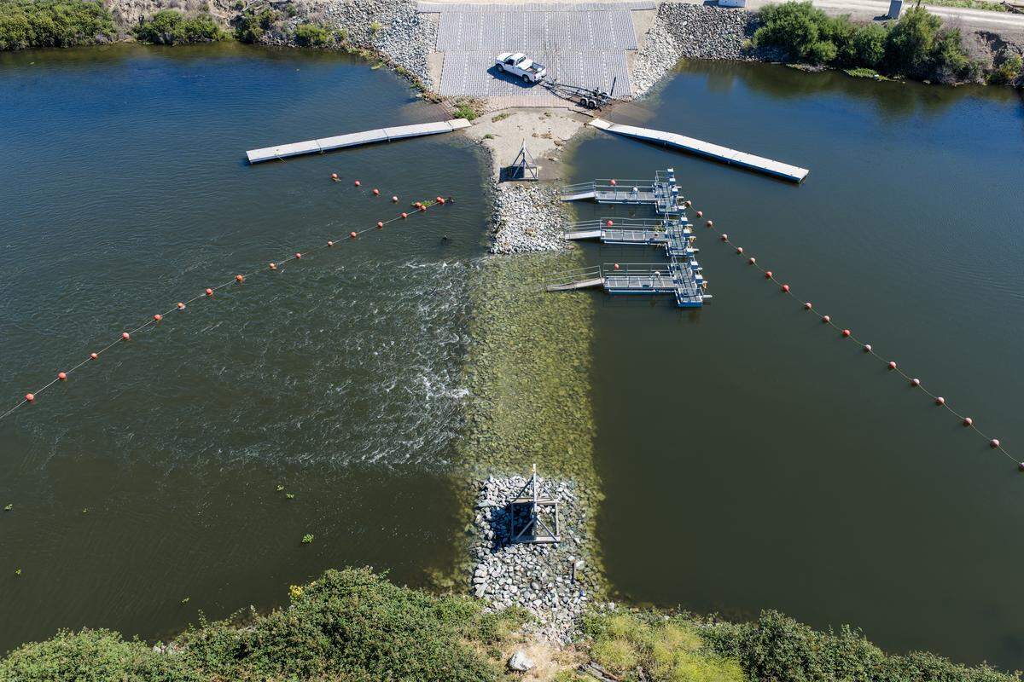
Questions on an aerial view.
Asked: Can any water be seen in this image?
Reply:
Yes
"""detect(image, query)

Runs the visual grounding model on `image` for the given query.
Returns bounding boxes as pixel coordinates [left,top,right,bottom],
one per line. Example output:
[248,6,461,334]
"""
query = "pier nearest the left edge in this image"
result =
[248,119,472,165]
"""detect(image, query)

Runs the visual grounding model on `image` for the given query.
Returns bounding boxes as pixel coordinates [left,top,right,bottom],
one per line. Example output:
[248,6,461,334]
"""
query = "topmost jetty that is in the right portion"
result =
[585,118,807,183]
